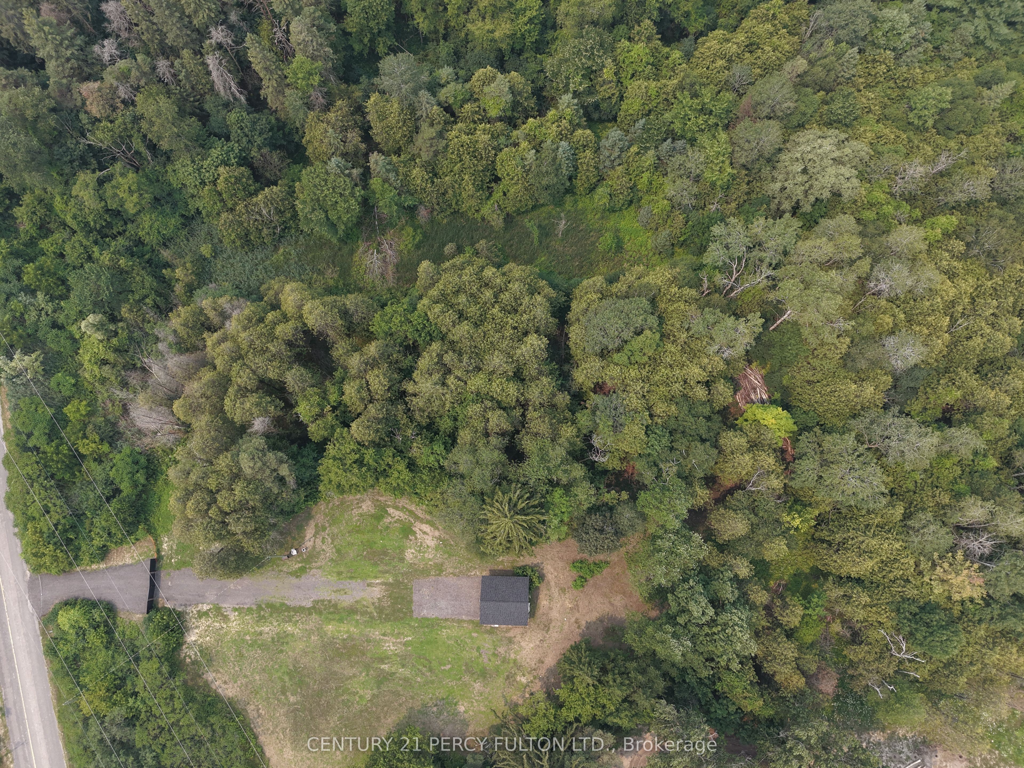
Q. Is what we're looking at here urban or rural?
rural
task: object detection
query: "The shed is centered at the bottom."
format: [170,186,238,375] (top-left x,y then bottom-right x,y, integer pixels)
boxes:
[480,575,529,628]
